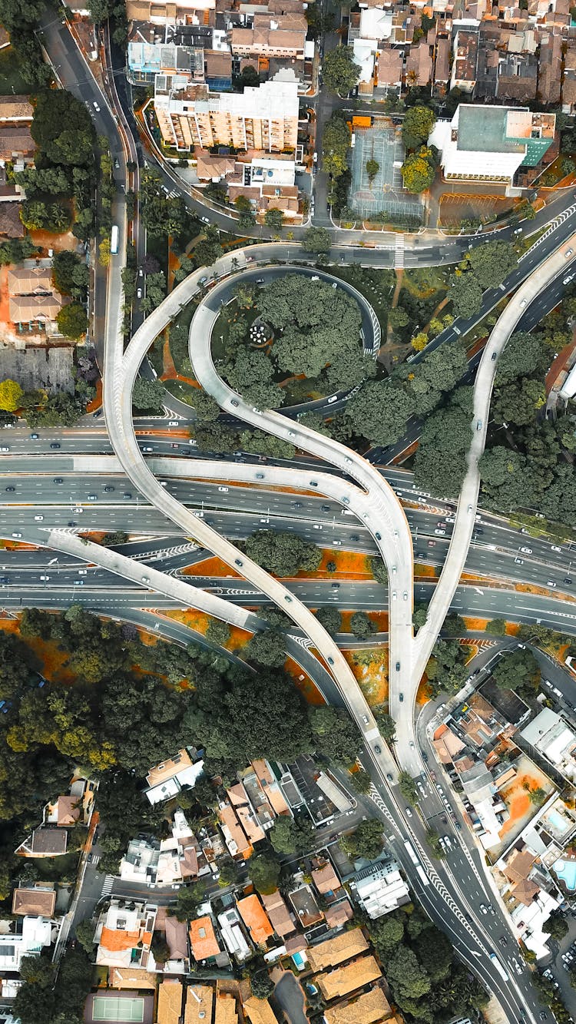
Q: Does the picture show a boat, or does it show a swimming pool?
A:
swimming pool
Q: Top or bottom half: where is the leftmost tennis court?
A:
bottom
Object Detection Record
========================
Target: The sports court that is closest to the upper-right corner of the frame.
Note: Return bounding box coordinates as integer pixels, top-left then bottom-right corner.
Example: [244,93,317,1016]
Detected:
[348,126,423,217]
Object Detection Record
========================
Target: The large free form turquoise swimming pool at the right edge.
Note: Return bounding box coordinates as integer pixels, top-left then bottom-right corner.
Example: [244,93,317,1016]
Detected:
[552,860,576,891]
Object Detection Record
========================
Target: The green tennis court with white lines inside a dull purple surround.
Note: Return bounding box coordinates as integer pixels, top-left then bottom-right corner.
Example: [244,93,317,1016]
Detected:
[87,987,154,1024]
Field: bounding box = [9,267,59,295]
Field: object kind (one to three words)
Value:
building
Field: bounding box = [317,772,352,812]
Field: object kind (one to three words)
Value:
shed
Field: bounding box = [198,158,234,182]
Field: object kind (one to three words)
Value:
house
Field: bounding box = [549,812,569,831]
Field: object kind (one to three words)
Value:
swimming pool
